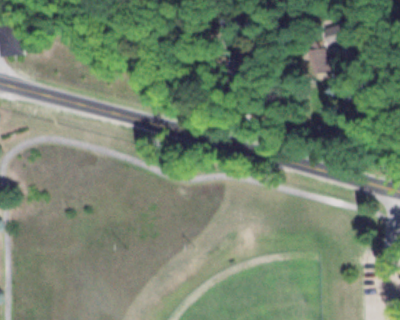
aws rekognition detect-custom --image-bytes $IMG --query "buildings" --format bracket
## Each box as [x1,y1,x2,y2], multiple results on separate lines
[0,26,24,58]
[324,24,341,36]
[308,50,333,74]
